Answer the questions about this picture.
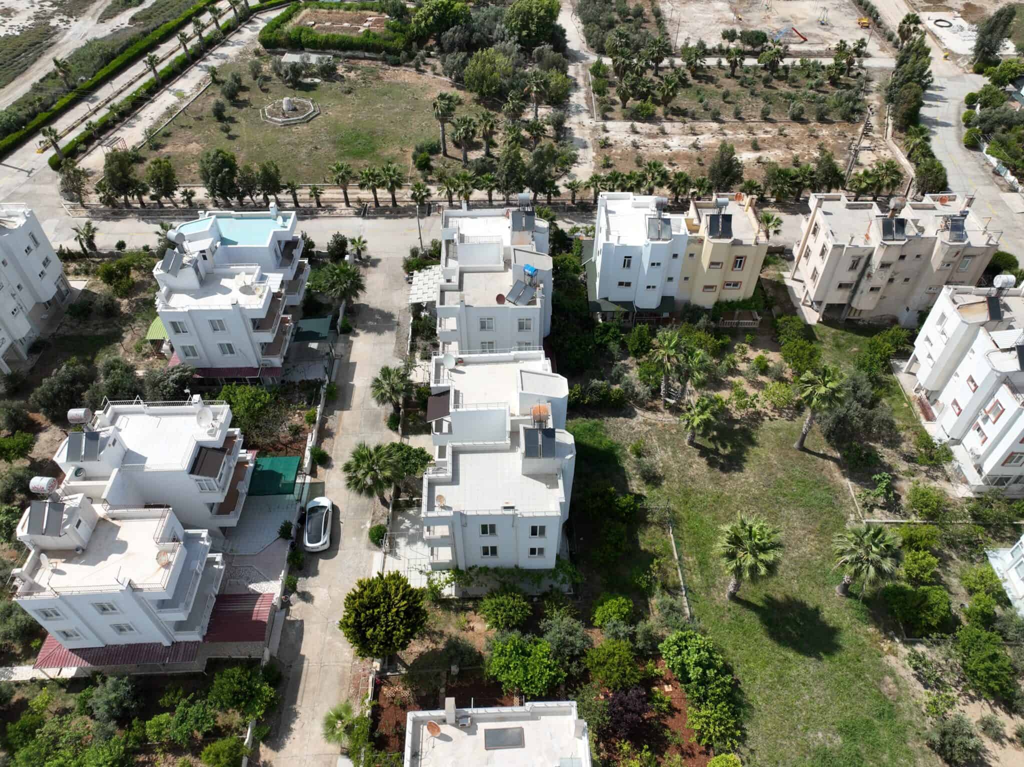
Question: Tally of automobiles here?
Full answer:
The photo contains exactly 1 automobile.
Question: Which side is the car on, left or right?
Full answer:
The car sits on the left side.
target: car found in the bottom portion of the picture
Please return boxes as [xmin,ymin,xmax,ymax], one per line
[303,497,335,555]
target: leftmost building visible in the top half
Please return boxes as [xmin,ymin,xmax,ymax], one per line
[0,201,76,369]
